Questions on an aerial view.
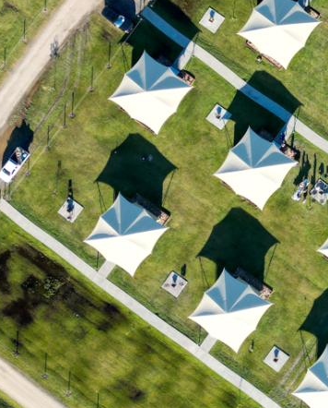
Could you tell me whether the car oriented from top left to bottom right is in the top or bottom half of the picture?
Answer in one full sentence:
The car oriented from top left to bottom right sits in the top half of the picture.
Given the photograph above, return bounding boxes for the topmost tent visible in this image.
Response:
[237,0,328,77]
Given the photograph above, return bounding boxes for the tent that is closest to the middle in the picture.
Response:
[89,181,189,278]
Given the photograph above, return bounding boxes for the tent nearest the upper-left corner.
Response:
[113,44,211,144]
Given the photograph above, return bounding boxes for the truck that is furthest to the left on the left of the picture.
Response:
[0,149,28,180]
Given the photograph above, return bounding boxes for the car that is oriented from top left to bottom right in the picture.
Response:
[102,5,133,31]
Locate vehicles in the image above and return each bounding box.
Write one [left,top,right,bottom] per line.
[0,149,28,180]
[102,5,133,31]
